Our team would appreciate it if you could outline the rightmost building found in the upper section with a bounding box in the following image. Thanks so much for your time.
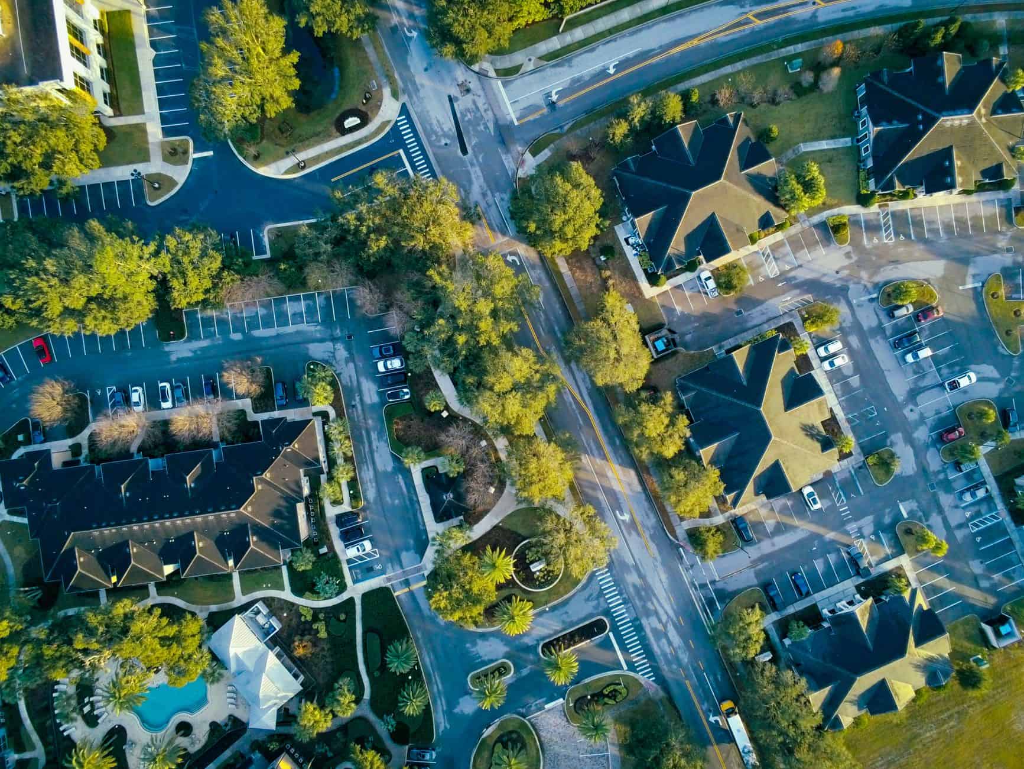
[858,51,1024,197]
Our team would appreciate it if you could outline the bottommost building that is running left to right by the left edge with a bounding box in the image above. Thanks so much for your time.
[0,415,326,592]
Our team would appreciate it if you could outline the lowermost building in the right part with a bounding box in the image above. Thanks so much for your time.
[785,586,956,730]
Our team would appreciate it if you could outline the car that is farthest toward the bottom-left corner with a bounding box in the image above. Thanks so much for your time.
[30,420,45,442]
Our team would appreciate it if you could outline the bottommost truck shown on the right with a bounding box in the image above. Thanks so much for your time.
[718,694,760,768]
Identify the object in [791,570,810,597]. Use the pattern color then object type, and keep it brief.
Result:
blue car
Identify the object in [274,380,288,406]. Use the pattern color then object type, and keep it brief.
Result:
blue car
